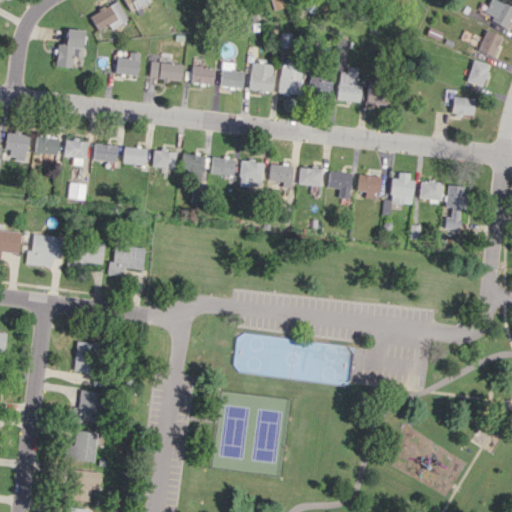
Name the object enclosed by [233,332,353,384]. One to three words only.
sports court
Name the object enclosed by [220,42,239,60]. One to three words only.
swimming pool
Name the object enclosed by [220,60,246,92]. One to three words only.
house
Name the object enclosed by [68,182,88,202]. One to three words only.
building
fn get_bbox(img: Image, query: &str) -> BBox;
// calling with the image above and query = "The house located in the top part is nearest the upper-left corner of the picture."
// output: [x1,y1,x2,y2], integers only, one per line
[53,28,90,69]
